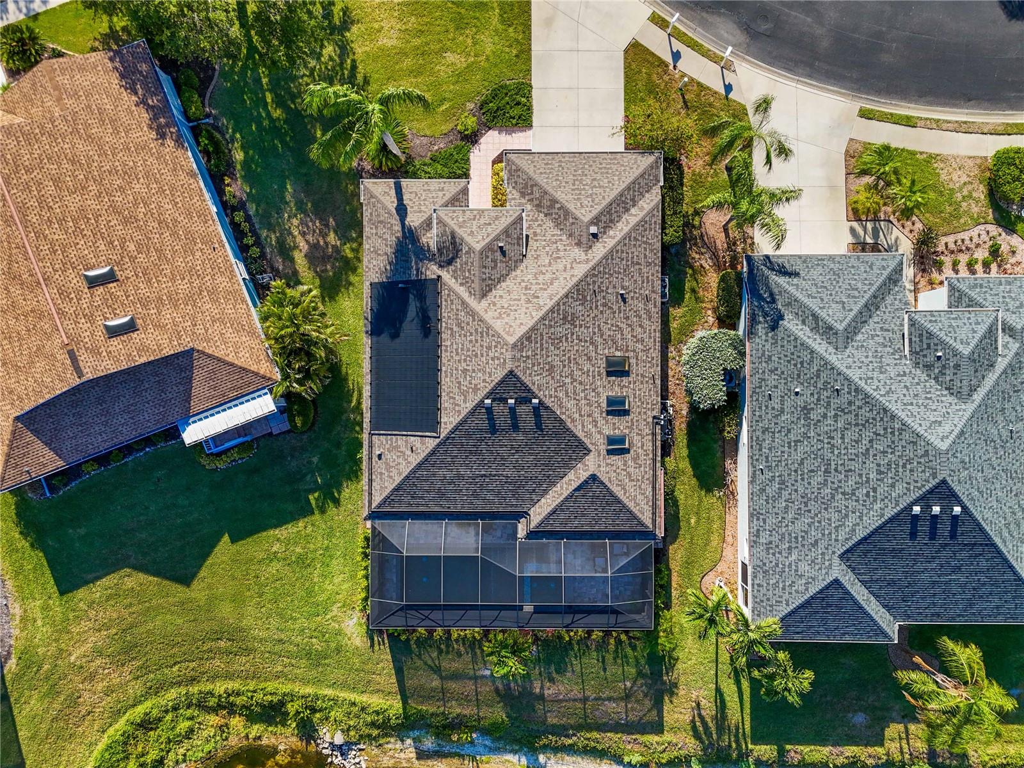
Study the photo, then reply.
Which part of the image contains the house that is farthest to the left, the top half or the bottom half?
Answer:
top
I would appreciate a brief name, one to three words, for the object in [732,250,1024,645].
house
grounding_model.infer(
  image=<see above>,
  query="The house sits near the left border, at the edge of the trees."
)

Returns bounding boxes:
[0,43,281,491]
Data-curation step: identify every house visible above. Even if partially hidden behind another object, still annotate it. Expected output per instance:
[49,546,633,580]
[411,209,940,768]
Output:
[0,43,281,491]
[360,150,665,538]
[732,250,1024,645]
